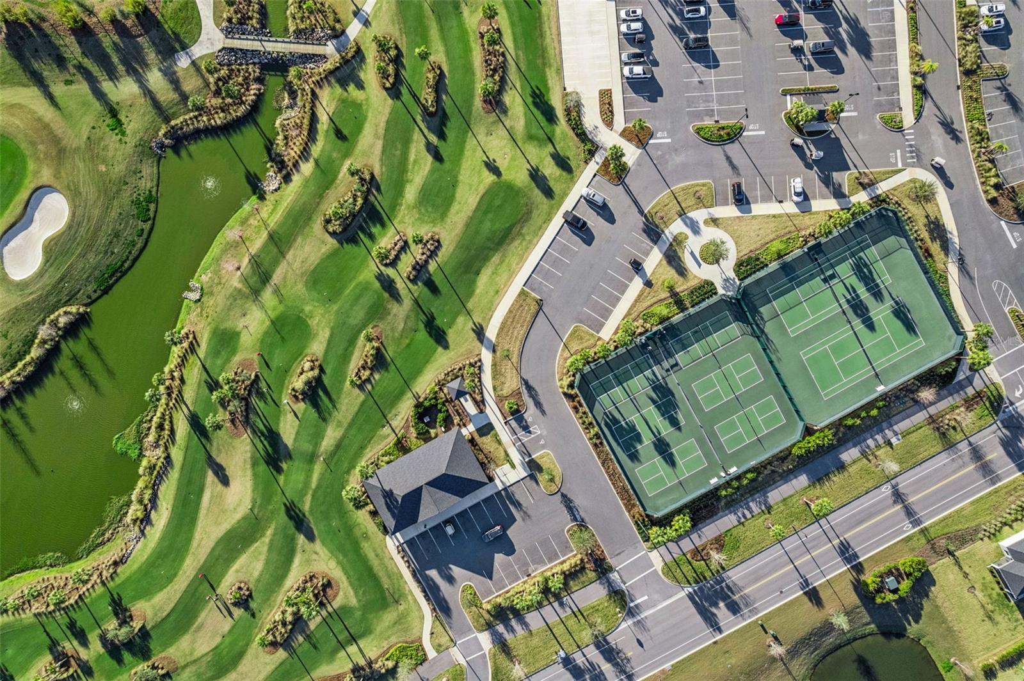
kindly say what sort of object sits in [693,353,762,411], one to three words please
sports court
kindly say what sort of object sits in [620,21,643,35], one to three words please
car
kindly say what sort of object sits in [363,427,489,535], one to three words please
building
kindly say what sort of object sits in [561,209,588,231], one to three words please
truck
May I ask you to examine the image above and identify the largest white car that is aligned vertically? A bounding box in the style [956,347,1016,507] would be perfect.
[790,177,803,203]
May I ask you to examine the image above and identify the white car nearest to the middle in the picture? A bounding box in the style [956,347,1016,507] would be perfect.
[582,188,606,207]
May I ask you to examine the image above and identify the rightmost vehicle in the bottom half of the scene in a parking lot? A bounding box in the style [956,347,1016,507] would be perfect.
[481,524,505,542]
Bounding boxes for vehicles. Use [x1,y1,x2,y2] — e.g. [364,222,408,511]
[555,645,567,659]
[788,137,803,149]
[790,177,803,203]
[808,40,835,53]
[619,7,642,21]
[623,65,652,79]
[978,18,1004,32]
[445,521,456,535]
[927,157,944,168]
[788,40,802,51]
[683,35,709,49]
[629,259,642,270]
[731,181,744,205]
[774,13,800,26]
[622,51,645,64]
[683,5,706,19]
[633,34,645,45]
[978,3,1005,15]
[582,188,606,207]
[561,209,588,231]
[807,151,823,161]
[682,0,706,6]
[481,524,505,542]
[620,21,643,35]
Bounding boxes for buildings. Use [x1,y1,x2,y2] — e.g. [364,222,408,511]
[446,377,469,400]
[994,530,1024,606]
[363,427,489,535]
